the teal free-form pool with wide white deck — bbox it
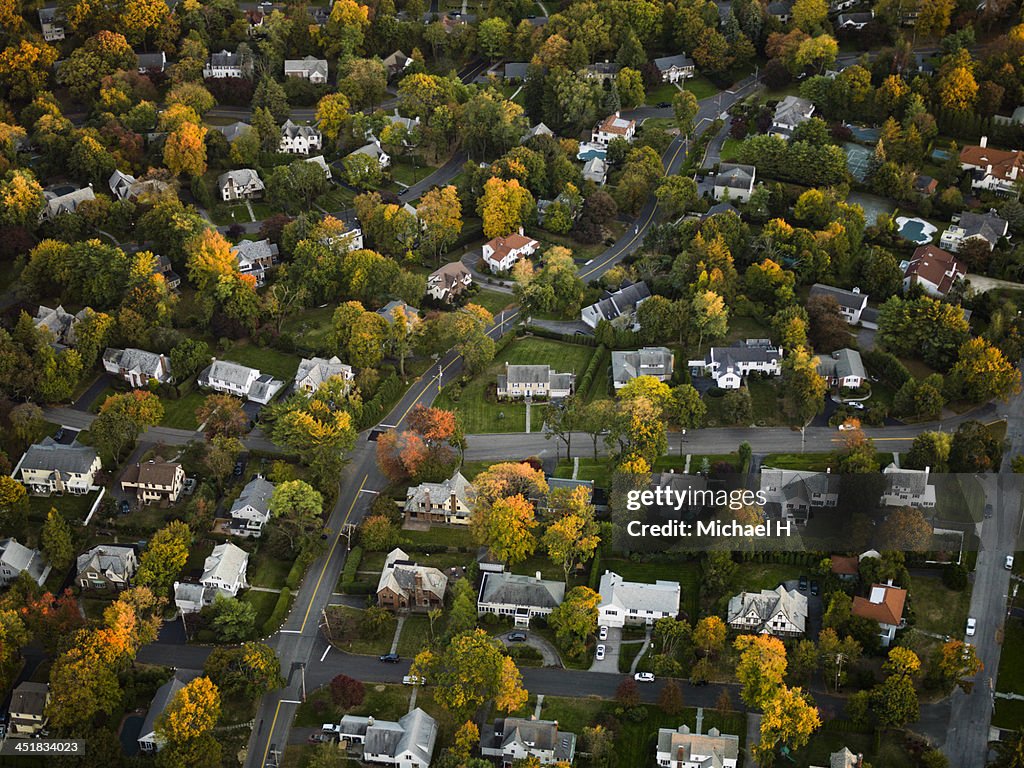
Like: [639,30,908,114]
[896,216,937,244]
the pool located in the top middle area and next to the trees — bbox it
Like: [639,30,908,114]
[577,143,609,161]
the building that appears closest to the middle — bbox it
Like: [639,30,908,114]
[494,362,572,399]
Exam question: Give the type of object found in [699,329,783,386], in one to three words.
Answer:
house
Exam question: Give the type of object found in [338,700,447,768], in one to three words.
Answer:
house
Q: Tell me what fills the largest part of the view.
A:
trees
